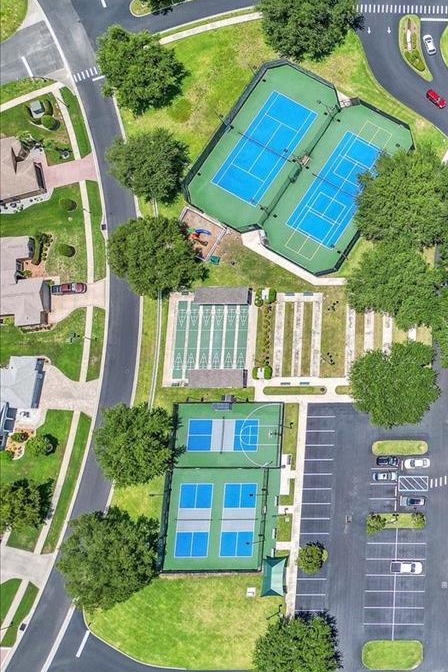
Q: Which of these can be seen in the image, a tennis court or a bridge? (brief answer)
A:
tennis court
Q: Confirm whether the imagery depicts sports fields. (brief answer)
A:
Yes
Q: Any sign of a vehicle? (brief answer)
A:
Yes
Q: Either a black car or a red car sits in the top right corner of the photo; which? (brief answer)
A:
red car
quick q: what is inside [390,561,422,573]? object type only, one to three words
vehicle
